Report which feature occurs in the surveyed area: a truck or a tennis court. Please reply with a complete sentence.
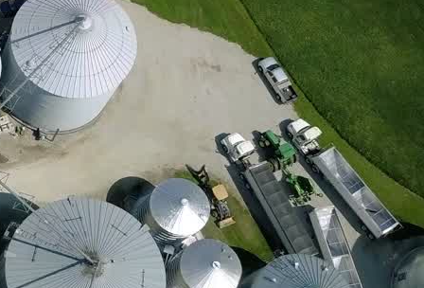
The one in the frame is a truck.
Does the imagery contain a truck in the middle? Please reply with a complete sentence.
Yes, the scene does show a truck in the middle.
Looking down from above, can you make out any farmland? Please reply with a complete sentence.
Yes, there's farmland in this view.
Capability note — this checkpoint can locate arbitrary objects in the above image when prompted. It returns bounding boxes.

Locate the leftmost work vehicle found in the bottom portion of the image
[182,167,237,233]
